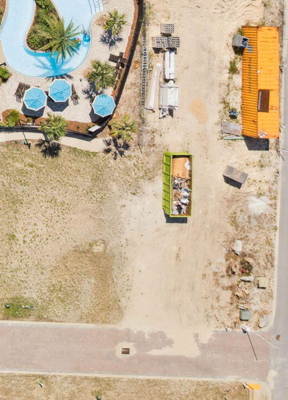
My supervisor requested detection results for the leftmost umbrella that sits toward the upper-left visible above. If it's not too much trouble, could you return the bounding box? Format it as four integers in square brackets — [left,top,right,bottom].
[23,86,46,109]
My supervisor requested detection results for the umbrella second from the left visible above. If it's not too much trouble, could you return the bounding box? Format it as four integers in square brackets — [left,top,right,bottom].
[47,78,70,101]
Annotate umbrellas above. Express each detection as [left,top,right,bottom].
[47,78,70,101]
[90,93,115,118]
[23,86,46,109]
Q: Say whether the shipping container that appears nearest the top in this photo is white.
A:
No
